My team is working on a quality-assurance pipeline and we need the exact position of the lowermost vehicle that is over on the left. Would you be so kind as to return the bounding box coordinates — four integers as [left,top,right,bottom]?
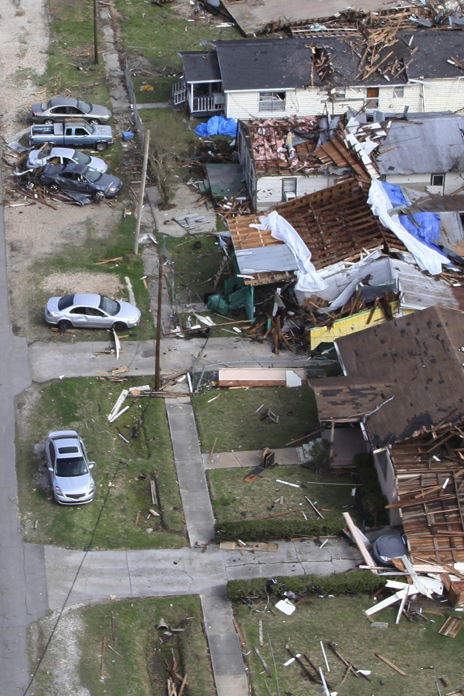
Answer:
[45,435,96,504]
